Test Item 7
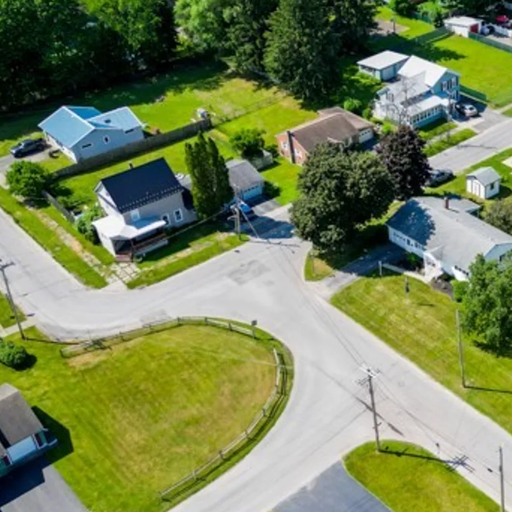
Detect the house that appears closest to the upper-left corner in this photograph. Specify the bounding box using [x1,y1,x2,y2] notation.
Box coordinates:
[40,105,145,161]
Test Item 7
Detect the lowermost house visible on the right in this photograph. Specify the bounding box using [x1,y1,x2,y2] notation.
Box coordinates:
[388,193,512,283]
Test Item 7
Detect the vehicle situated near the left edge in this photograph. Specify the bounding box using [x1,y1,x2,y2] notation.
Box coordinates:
[8,137,47,155]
